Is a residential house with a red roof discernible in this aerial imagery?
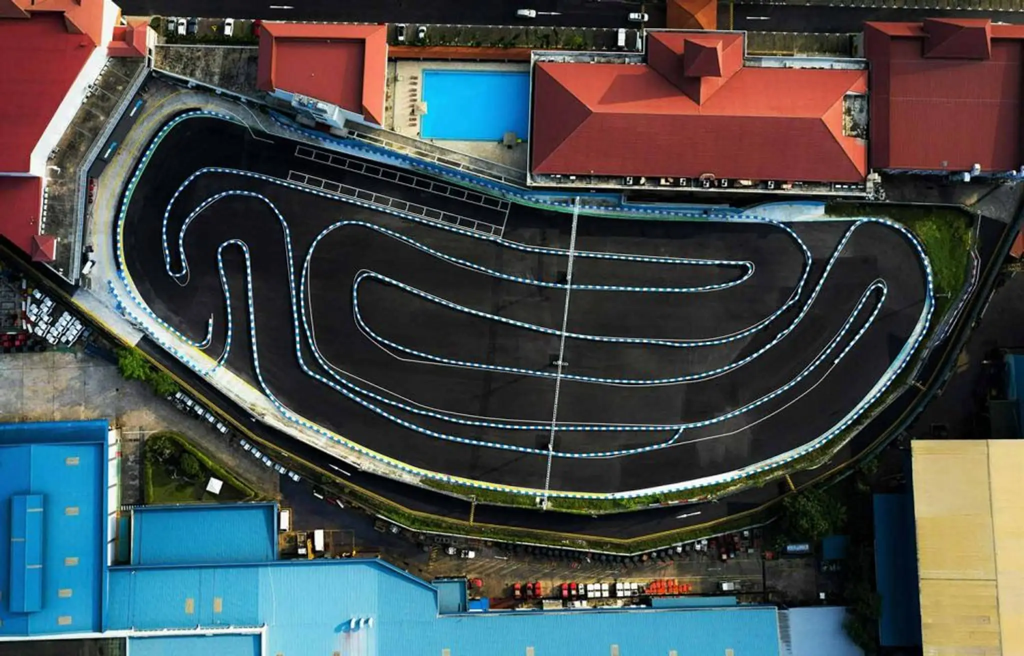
Yes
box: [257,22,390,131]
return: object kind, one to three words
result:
house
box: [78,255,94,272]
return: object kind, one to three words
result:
vehicle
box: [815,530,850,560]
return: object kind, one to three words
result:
shed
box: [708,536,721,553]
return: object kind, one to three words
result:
vehicle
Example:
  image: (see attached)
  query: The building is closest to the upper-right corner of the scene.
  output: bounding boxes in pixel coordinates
[847,18,1024,181]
